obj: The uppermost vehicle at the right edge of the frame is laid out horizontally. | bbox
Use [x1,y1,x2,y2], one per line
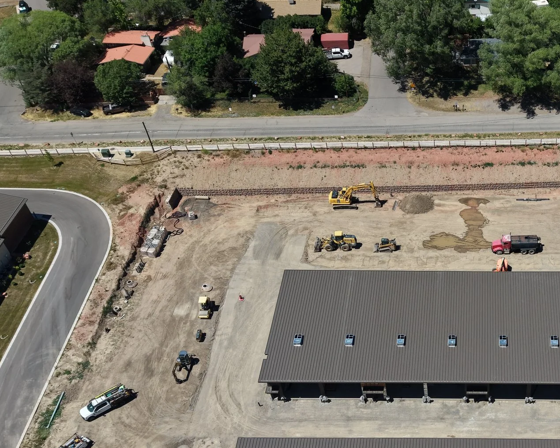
[491,234,542,253]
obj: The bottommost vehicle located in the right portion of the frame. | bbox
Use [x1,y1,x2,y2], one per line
[493,255,509,269]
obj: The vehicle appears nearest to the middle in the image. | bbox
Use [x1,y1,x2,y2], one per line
[313,229,358,250]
